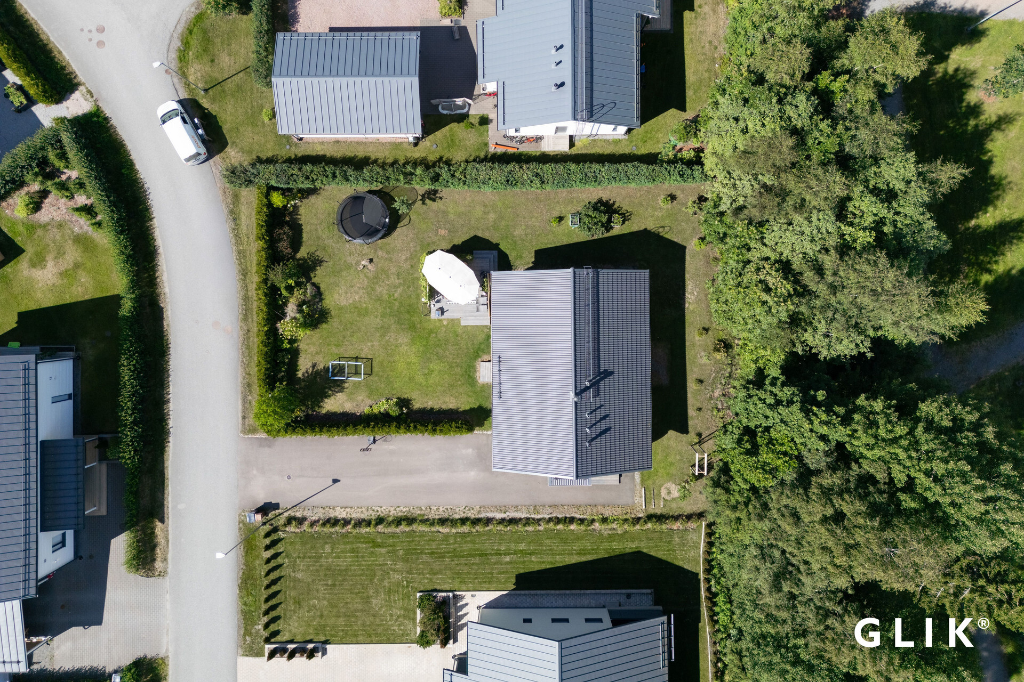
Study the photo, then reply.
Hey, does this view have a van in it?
Yes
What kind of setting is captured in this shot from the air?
residential area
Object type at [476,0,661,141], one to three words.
house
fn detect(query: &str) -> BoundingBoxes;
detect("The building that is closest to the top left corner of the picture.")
[270,30,424,145]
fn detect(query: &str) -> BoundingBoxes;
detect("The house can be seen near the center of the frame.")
[488,265,652,486]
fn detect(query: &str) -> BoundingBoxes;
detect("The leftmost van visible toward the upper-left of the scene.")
[156,100,210,170]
